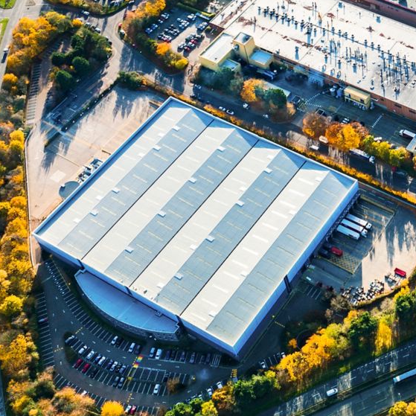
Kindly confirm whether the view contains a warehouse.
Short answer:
Yes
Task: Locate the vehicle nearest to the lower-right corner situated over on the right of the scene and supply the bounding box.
[393,367,416,385]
